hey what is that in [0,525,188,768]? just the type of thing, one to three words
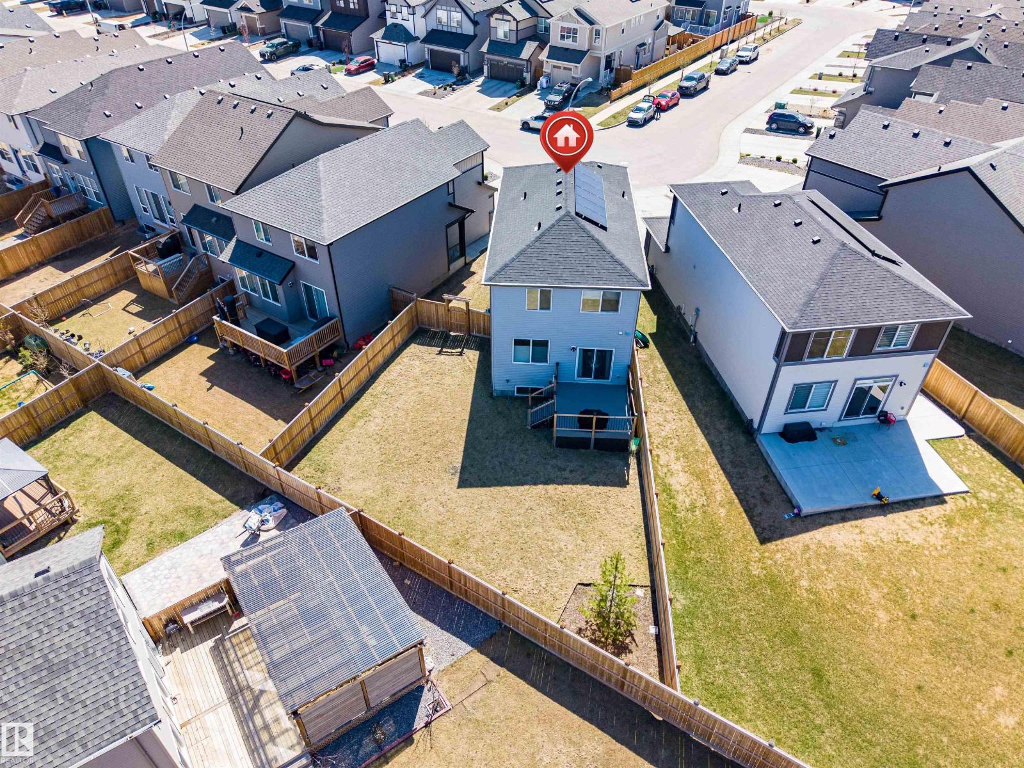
house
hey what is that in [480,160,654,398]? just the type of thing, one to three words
house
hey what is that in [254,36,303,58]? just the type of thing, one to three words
truck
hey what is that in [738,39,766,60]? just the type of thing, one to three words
car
